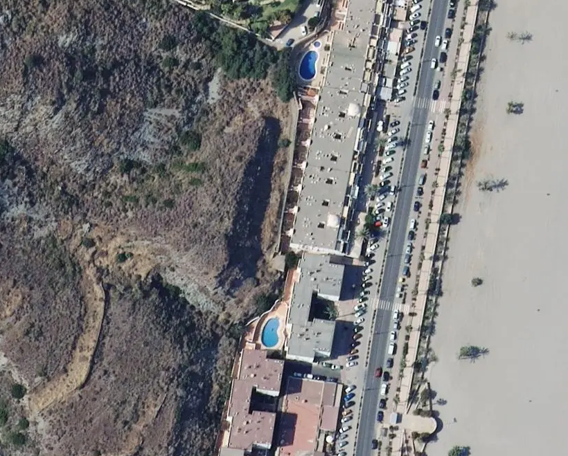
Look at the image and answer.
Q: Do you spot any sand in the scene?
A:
Yes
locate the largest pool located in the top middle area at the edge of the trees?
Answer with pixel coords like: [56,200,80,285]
[299,50,319,80]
